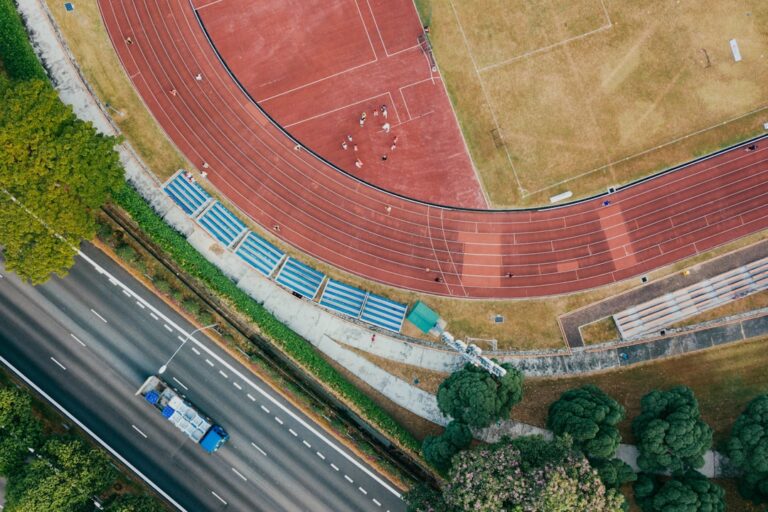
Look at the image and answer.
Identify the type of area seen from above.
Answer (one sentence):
What you see here is a sports ground.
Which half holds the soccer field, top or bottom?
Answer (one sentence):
Seen from above, the soccer field lies in the top half of the view.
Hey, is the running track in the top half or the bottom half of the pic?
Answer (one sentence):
Seen from above, the running track lies in the top half of the view.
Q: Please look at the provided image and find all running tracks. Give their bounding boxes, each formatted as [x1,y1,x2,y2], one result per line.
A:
[93,0,768,306]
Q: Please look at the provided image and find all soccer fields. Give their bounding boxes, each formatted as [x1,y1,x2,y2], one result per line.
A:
[416,0,768,209]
